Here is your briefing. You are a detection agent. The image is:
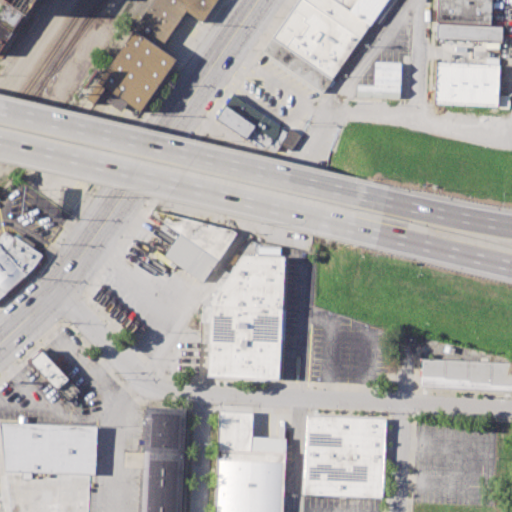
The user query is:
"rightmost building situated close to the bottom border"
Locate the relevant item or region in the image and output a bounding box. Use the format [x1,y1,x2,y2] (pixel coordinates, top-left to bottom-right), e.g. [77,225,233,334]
[304,416,387,499]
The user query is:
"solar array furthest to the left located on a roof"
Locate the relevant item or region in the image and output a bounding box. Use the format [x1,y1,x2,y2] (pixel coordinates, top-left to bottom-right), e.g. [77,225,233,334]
[214,318,234,341]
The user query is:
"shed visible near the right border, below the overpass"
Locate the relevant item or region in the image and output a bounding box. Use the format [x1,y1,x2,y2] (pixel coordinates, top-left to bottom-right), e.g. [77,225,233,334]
[422,360,512,392]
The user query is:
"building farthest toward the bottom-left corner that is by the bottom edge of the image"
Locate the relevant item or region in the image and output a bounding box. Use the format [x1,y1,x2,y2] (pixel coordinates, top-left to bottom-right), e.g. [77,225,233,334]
[1,424,98,512]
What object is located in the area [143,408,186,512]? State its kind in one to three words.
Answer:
building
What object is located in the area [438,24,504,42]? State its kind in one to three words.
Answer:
shed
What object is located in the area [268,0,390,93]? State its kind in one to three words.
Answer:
building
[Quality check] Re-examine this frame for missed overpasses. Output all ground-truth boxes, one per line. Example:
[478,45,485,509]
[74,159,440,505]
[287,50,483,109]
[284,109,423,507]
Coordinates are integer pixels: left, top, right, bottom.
[0,95,512,284]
